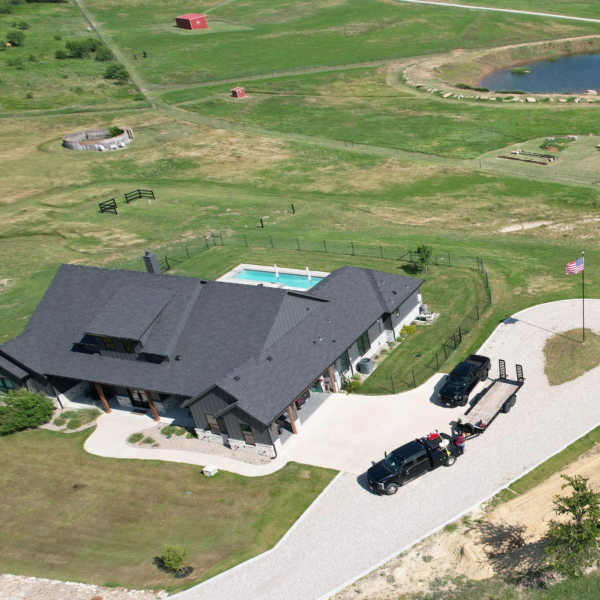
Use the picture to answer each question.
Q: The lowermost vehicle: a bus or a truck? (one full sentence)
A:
In the photo, the lowermost vehicle shows up as a truck.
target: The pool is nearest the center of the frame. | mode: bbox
[217,263,329,296]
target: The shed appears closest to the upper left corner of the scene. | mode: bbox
[174,12,204,29]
